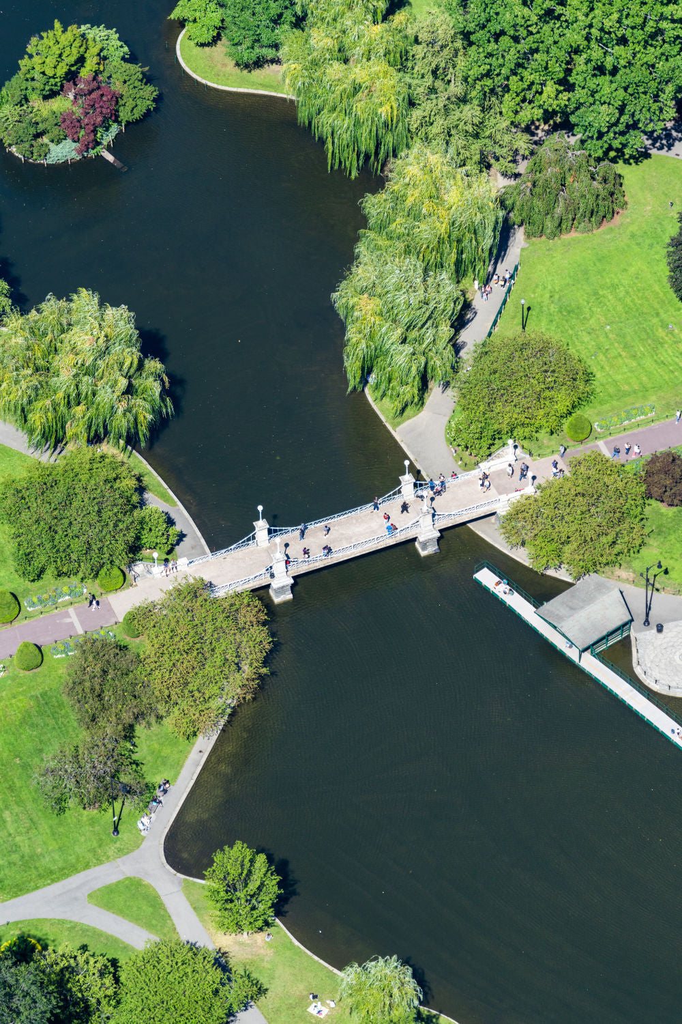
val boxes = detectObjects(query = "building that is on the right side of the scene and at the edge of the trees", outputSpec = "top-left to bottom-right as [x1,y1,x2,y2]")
[537,576,636,664]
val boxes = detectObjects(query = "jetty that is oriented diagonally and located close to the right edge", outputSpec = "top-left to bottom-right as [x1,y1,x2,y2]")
[472,560,682,753]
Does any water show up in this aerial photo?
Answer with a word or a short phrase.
Yes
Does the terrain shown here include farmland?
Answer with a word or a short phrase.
No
